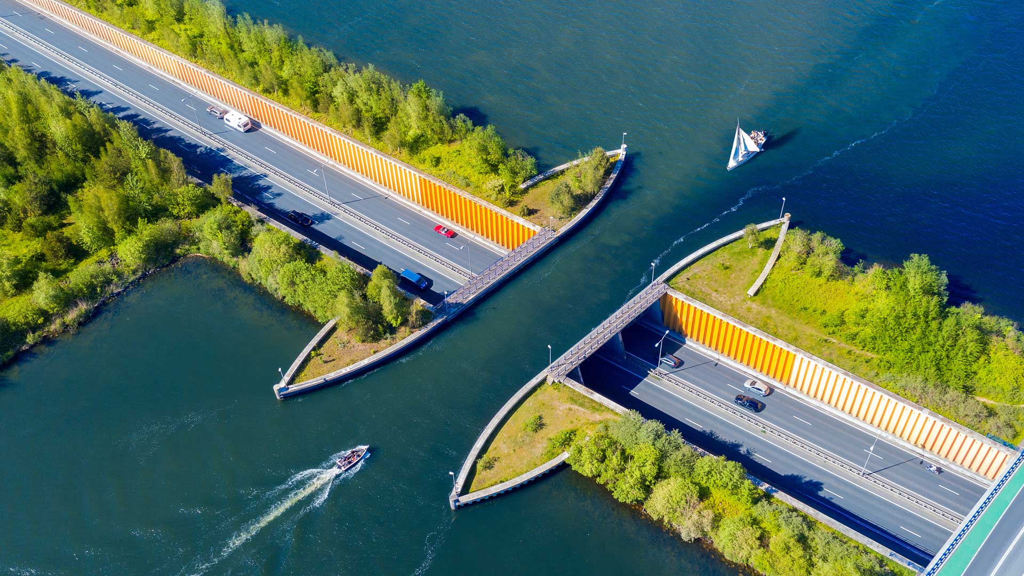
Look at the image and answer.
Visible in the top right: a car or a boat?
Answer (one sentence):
The one visible in the top right is a boat.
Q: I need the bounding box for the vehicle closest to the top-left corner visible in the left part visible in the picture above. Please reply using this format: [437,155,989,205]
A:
[208,107,227,120]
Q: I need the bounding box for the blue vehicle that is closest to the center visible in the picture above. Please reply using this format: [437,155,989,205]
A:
[400,268,429,291]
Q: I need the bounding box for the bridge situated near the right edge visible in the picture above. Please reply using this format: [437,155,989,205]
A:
[920,441,1024,576]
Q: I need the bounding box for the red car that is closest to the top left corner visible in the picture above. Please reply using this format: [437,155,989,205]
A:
[434,225,455,239]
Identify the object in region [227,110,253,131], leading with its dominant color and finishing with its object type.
white camper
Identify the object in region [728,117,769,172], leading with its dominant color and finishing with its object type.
white boat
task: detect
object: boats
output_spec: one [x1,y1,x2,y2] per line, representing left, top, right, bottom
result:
[728,117,769,172]
[334,445,369,474]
